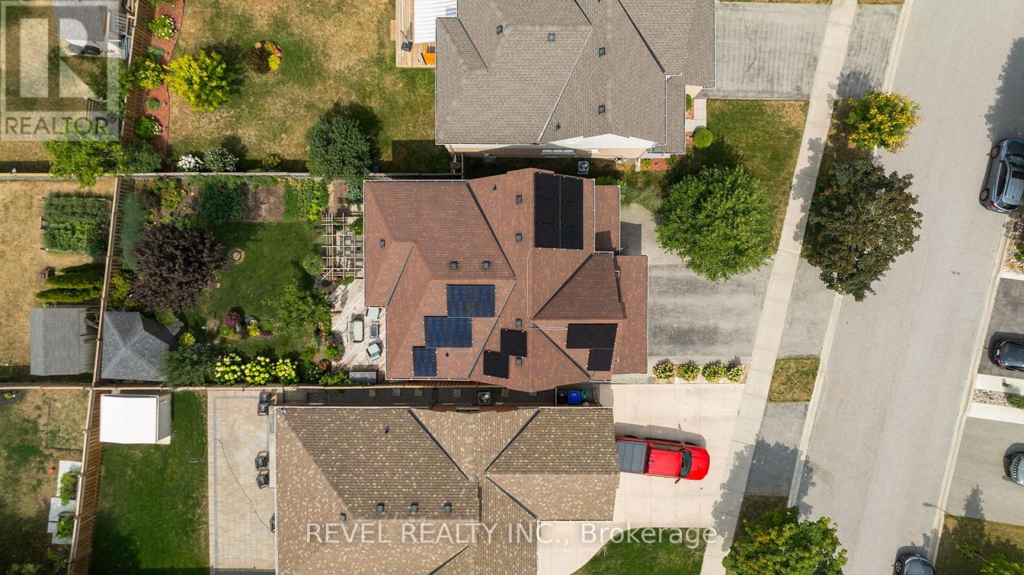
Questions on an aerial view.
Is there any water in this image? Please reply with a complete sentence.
No, no water is visible.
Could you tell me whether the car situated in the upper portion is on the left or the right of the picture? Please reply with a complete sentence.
The car situated in the upper portion sits on the right side.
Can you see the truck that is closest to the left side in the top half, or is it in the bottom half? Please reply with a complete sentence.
It is in the bottom half that the truck that is closest to the left side appears.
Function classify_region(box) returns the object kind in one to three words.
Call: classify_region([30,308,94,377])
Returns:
shed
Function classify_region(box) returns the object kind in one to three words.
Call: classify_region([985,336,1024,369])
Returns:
car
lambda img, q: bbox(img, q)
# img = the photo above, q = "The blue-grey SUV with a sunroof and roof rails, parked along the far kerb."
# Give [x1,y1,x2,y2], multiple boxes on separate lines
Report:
[978,136,1024,214]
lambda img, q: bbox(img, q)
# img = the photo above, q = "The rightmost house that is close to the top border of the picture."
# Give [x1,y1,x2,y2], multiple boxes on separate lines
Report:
[435,0,717,162]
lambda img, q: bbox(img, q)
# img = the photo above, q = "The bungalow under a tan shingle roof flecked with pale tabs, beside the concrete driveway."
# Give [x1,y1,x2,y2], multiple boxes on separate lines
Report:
[274,398,620,575]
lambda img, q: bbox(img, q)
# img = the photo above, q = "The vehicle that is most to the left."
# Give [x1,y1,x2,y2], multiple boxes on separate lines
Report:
[617,440,710,488]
